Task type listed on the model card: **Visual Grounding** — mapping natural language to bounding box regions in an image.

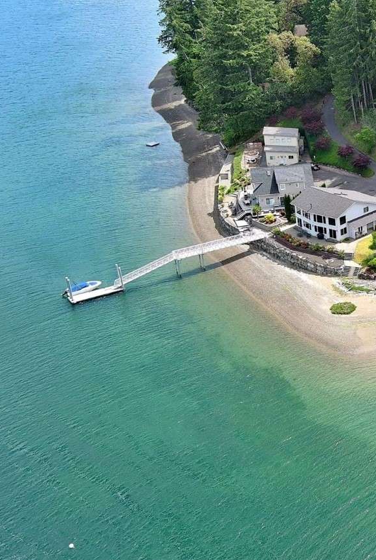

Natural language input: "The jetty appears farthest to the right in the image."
[172,227,266,279]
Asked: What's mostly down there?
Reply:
water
